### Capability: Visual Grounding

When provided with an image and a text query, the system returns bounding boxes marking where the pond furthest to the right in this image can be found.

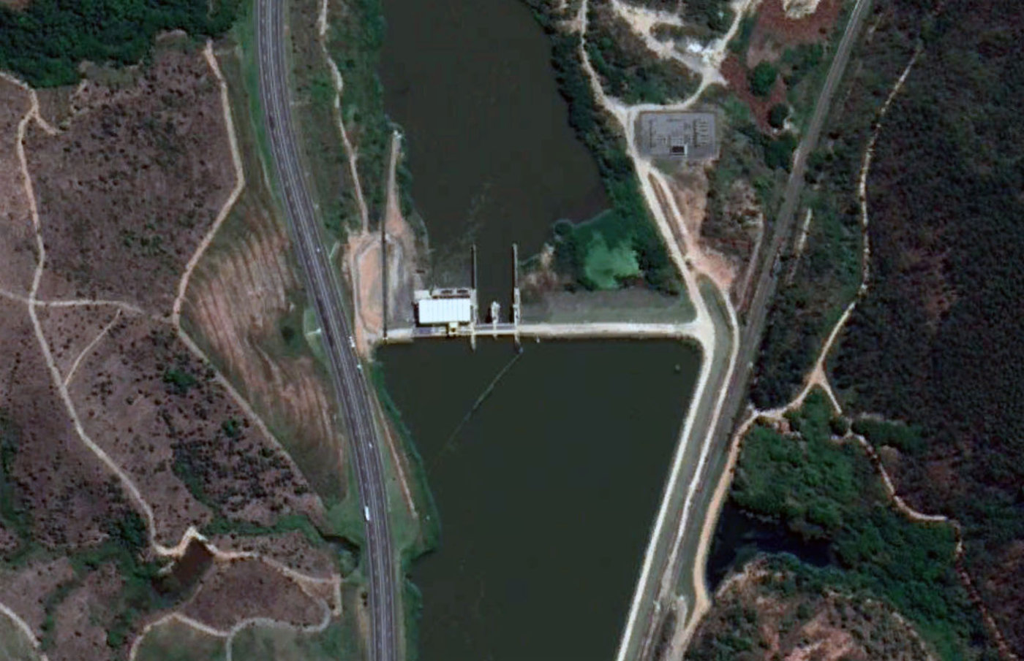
[707,504,839,593]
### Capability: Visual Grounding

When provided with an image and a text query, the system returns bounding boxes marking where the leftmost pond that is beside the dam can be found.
[377,333,700,661]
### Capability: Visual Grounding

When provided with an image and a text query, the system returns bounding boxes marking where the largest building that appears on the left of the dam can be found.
[414,289,471,337]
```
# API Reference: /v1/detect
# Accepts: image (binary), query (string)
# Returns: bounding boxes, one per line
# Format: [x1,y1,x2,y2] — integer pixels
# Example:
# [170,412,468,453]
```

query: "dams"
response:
[471,245,701,350]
